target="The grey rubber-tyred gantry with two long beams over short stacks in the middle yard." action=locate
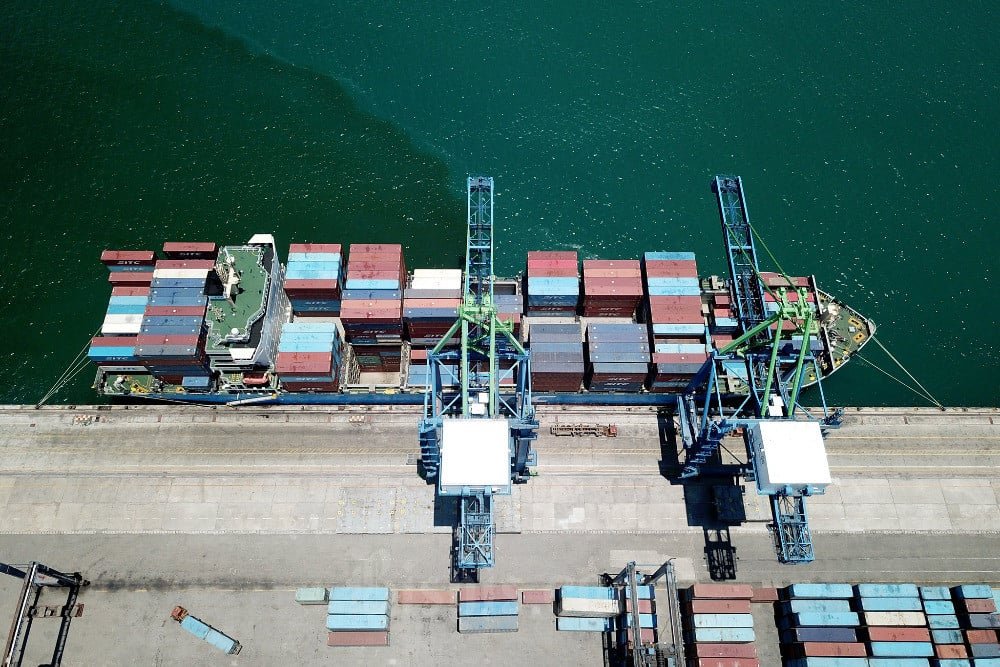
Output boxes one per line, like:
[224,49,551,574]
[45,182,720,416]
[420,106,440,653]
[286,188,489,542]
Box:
[609,560,690,667]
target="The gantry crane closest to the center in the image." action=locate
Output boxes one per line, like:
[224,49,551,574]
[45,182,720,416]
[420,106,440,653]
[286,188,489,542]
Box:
[411,174,550,568]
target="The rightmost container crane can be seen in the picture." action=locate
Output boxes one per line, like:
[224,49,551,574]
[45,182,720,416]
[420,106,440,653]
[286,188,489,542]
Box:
[668,175,848,569]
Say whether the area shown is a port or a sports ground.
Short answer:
port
